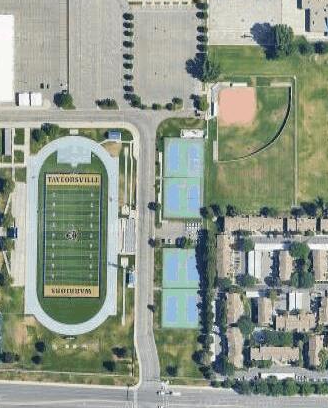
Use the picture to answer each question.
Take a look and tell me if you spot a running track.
Yes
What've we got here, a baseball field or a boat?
baseball field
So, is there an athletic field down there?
Yes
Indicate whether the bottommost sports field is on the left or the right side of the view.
left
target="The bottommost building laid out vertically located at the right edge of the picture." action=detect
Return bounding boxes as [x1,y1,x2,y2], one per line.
[308,335,323,368]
